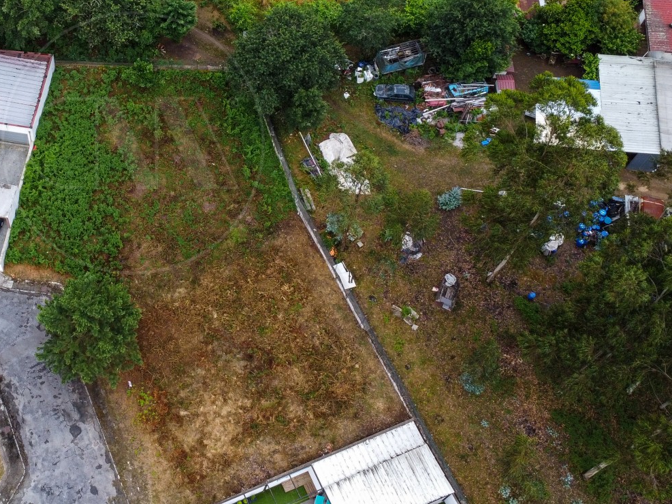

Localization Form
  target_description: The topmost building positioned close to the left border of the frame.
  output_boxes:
[0,49,57,147]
